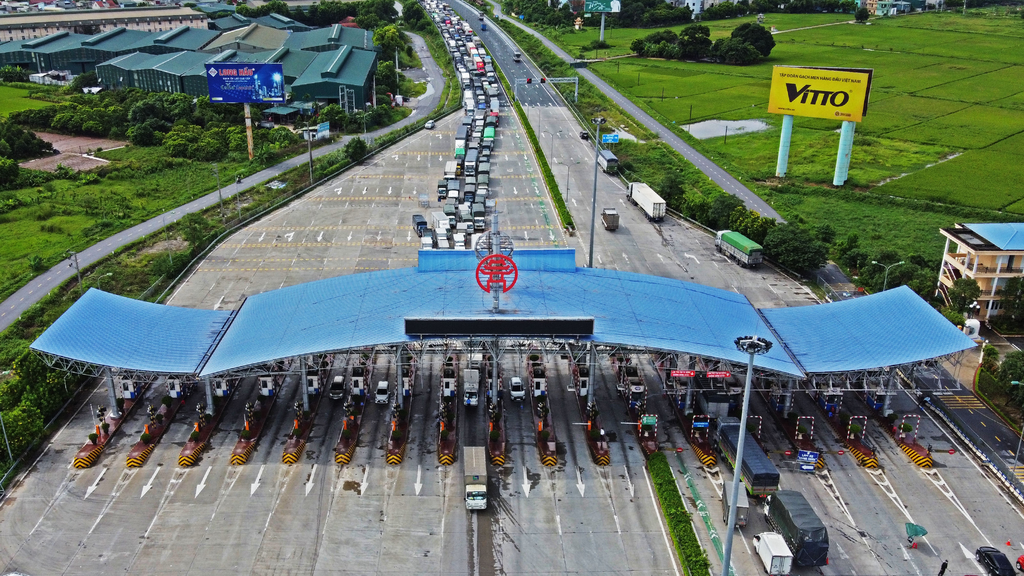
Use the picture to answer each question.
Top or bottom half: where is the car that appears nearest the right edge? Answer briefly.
bottom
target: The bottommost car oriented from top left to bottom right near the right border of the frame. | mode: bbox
[975,537,1024,574]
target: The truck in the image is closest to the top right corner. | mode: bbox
[712,231,761,265]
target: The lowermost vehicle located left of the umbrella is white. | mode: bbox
[751,523,795,571]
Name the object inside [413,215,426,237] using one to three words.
vehicle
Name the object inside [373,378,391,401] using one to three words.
car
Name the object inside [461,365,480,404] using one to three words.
vehicle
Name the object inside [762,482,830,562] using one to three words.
truck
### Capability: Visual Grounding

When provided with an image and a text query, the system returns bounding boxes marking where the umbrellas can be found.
[901,516,929,538]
